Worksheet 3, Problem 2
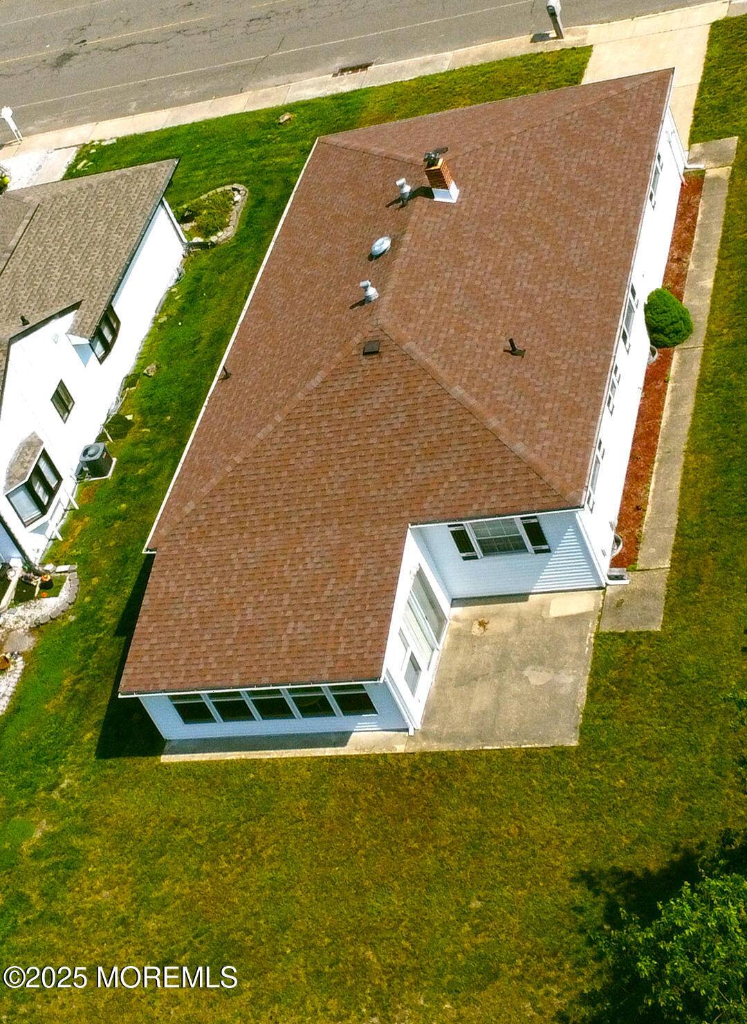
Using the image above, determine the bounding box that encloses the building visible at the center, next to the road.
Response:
[118,69,709,741]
